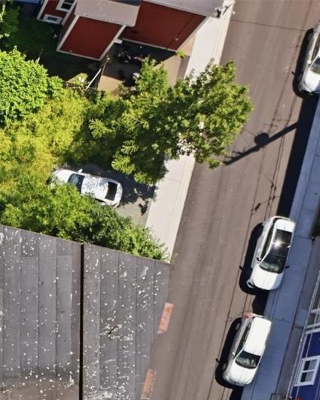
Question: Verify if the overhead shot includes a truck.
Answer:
No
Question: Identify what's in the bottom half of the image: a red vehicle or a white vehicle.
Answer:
white vehicle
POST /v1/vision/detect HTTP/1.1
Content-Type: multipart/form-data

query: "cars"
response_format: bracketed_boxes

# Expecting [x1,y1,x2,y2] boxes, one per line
[292,16,320,101]
[48,164,125,212]
[244,214,300,294]
[220,309,275,391]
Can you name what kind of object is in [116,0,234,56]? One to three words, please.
house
